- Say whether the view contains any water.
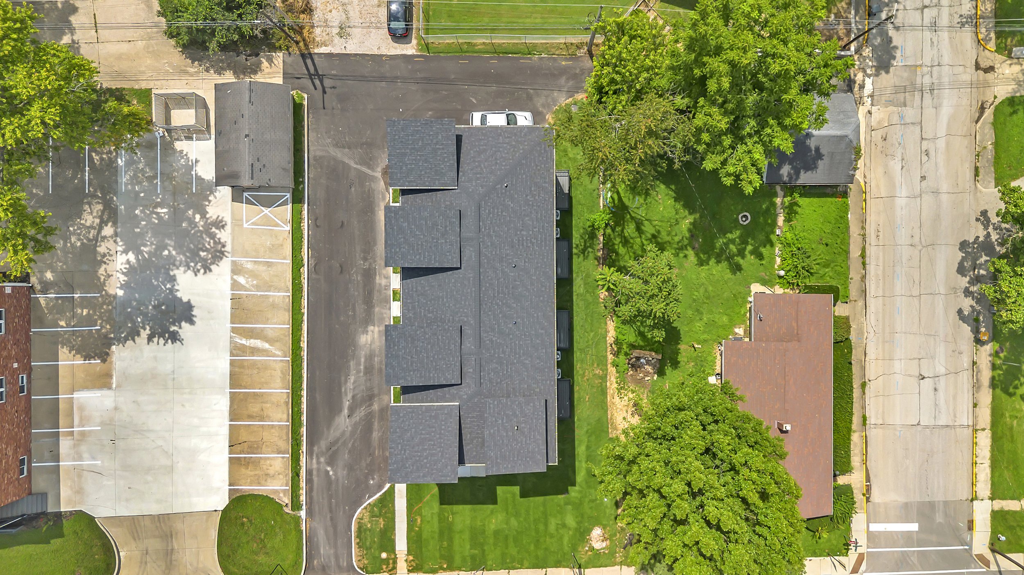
No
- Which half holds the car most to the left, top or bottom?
top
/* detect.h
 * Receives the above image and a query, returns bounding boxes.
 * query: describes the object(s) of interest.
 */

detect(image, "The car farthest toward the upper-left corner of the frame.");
[387,0,411,39]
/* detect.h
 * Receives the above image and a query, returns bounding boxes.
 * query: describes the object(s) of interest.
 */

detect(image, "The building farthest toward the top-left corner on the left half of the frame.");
[215,79,294,187]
